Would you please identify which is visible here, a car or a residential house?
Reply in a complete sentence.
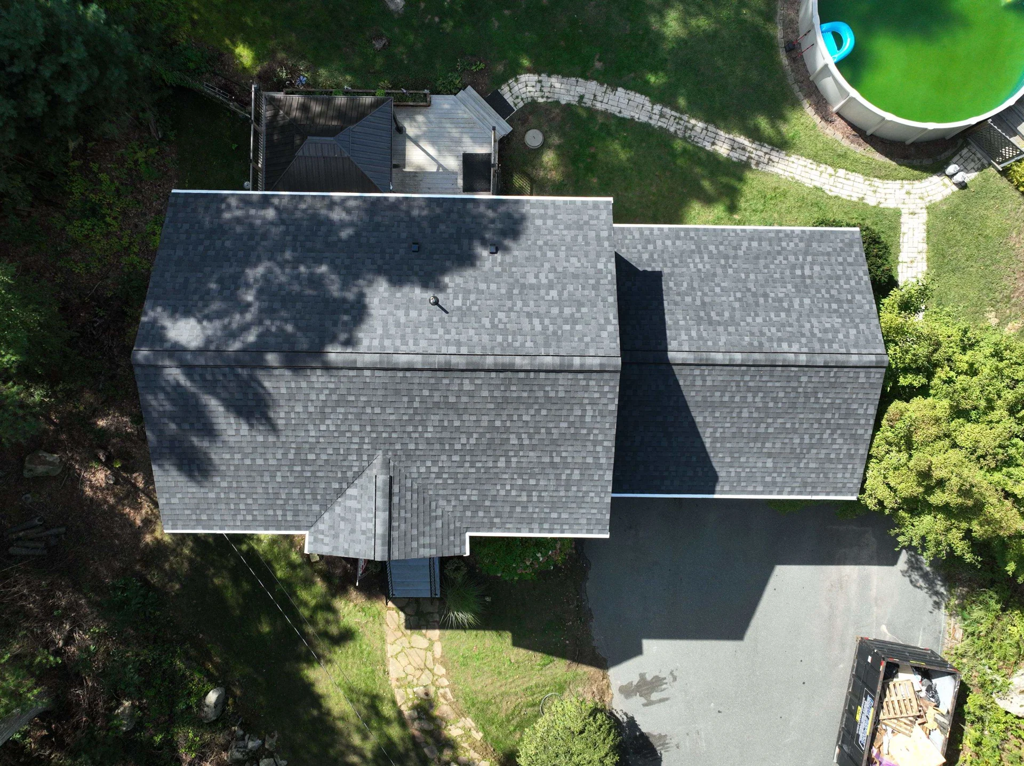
Visible in the photo is a residential house.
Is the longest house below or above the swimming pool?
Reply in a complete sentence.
Looking at the photo, you'll find the longest house below the swimming pool.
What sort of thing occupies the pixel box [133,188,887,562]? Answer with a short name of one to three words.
house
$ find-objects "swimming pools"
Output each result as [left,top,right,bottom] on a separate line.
[797,0,1024,144]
